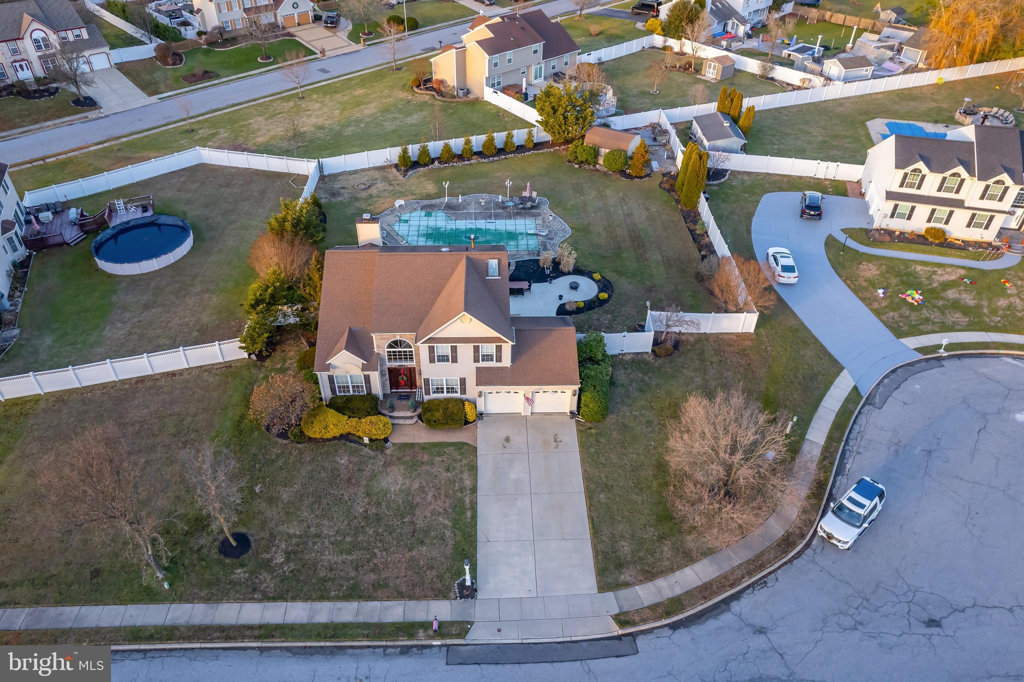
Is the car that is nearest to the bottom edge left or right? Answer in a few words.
right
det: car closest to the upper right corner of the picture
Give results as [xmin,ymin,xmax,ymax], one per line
[801,187,827,215]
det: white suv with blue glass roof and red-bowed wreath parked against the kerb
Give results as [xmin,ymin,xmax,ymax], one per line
[819,468,888,549]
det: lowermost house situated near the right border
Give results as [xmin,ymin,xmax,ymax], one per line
[863,126,1024,251]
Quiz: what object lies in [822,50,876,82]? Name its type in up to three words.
shed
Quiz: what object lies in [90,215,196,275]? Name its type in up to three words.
swimming pool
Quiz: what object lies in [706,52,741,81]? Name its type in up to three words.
shed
